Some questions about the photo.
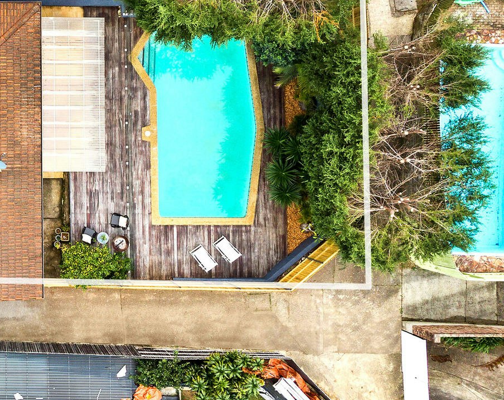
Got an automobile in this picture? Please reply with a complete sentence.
No, there's no automobile here.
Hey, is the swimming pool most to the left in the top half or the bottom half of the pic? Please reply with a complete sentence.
The swimming pool most to the left sits in the top half of the picture.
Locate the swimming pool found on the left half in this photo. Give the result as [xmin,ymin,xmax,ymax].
[132,27,265,225]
